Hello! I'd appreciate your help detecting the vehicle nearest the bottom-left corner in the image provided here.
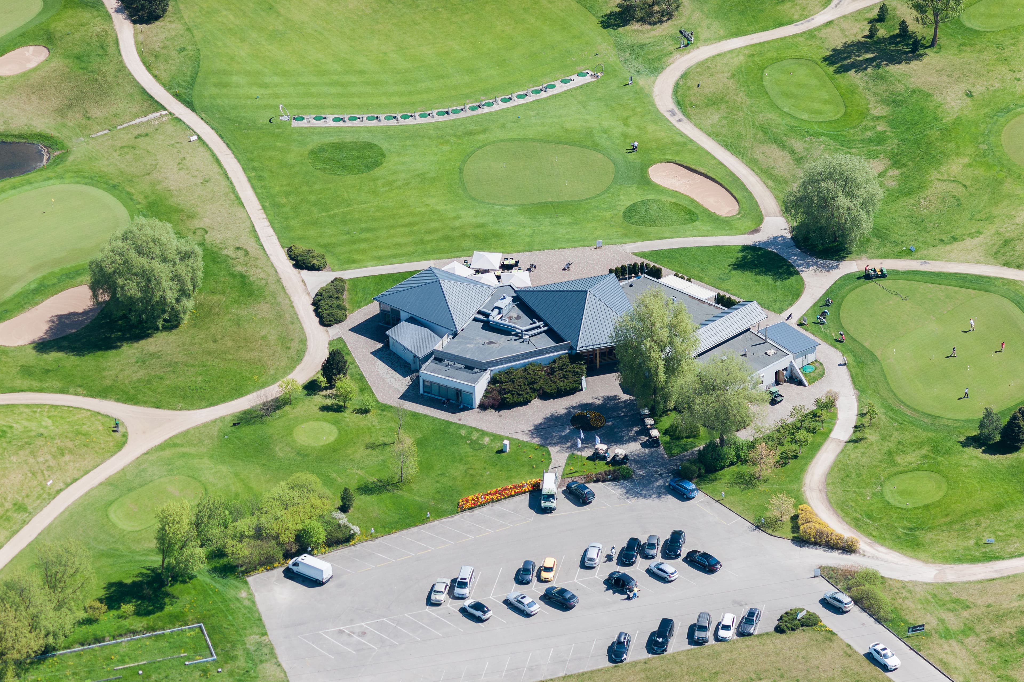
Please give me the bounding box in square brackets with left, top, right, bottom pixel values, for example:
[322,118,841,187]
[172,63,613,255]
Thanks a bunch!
[285,553,332,587]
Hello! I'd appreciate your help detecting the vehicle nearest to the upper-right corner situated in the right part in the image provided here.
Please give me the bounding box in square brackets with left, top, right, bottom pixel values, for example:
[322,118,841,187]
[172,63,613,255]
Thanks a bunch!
[865,267,888,279]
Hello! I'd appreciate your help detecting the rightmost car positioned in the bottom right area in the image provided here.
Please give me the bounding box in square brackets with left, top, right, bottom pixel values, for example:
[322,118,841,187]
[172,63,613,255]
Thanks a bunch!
[864,644,905,673]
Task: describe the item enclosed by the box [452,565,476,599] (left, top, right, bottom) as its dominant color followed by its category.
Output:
white car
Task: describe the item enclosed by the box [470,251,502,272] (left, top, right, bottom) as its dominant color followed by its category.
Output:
white umbrella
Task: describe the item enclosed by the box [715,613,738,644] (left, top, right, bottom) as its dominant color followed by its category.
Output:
white car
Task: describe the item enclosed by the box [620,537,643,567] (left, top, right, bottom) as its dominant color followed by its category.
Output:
black car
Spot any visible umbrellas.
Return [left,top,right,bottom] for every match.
[440,261,475,278]
[470,251,502,272]
[466,272,499,286]
[500,271,532,288]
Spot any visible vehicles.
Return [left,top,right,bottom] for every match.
[738,607,761,638]
[429,579,452,607]
[666,479,702,502]
[605,571,640,594]
[539,558,559,583]
[504,593,543,617]
[607,631,631,664]
[460,600,495,623]
[543,588,582,612]
[592,444,611,464]
[685,551,725,575]
[539,466,559,515]
[690,612,714,645]
[819,592,857,617]
[620,537,643,567]
[517,561,538,586]
[583,544,604,570]
[452,565,476,599]
[865,267,888,279]
[766,384,787,405]
[642,536,662,561]
[864,644,905,673]
[715,613,738,644]
[649,618,673,655]
[647,562,682,584]
[649,430,661,450]
[611,448,628,465]
[285,553,332,587]
[665,530,688,561]
[562,483,600,506]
